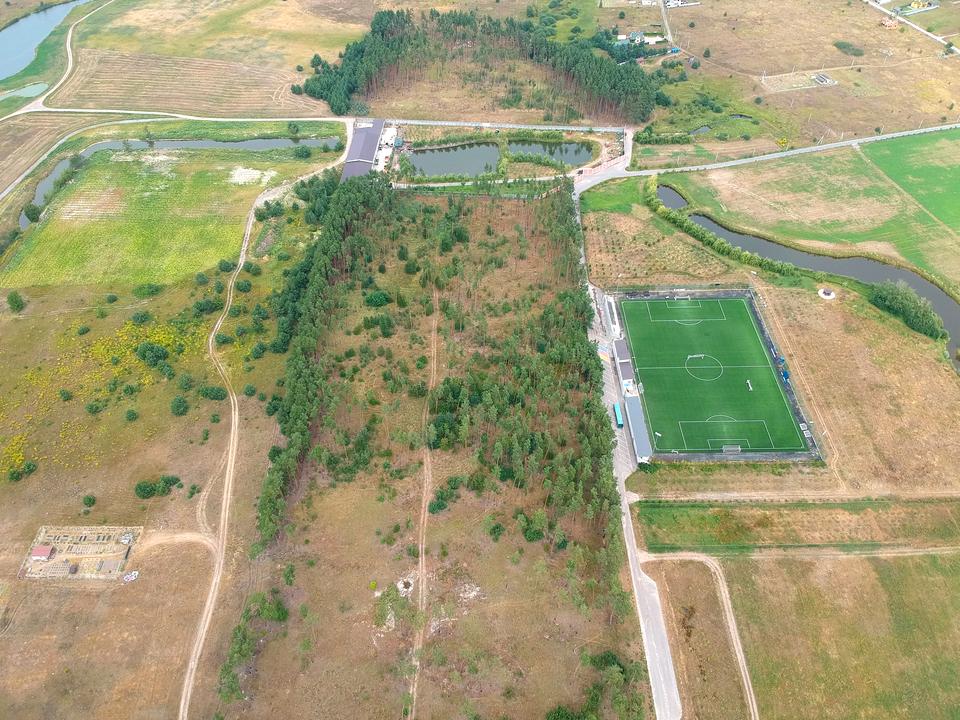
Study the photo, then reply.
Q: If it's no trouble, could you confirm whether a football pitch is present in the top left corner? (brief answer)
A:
No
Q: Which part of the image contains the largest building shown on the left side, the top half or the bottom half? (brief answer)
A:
top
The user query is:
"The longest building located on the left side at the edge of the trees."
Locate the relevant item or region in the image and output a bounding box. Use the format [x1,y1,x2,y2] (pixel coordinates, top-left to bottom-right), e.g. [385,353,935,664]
[340,118,384,194]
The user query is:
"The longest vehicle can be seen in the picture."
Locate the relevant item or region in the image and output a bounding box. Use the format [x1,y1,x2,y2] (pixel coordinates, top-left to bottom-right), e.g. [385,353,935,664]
[610,400,624,428]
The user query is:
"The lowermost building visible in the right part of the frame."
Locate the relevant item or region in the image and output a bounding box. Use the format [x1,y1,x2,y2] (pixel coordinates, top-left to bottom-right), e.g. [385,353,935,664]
[623,392,655,466]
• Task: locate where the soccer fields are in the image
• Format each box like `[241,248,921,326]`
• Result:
[614,291,822,462]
